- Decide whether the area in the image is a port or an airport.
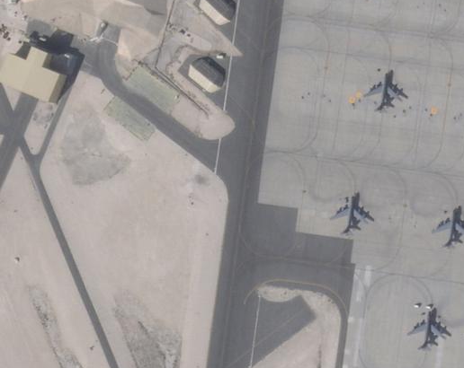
airport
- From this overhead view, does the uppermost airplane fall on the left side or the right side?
right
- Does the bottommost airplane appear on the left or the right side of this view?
right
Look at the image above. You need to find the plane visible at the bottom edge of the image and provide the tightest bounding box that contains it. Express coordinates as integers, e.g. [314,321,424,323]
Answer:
[408,312,445,350]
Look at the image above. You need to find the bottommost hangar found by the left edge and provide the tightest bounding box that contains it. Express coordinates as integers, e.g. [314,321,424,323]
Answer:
[0,47,69,103]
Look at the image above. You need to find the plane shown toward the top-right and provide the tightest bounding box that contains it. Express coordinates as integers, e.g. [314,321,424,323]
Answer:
[365,74,401,112]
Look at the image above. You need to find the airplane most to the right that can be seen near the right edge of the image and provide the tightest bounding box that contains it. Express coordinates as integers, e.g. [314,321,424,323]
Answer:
[433,210,464,248]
